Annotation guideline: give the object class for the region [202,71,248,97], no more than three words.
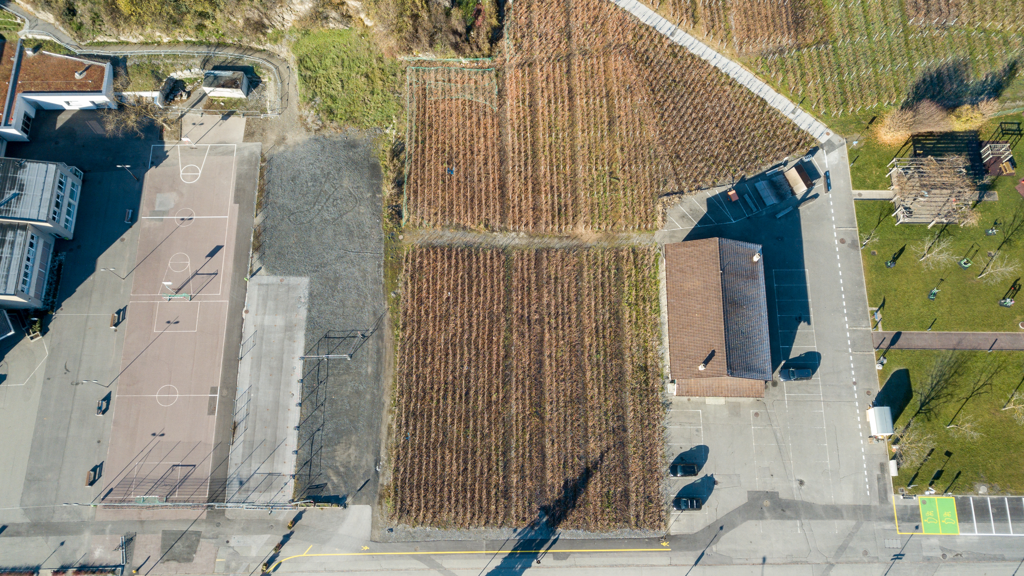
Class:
shed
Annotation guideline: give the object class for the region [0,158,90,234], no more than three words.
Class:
building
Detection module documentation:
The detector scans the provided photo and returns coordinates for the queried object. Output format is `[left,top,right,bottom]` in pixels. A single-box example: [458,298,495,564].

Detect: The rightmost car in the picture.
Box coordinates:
[781,368,817,384]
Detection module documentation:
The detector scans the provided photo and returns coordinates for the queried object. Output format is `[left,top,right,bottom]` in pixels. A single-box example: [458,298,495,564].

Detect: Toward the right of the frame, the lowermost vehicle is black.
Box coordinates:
[672,496,705,513]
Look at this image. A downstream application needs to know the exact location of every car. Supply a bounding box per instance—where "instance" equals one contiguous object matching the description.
[672,496,705,513]
[670,462,701,479]
[781,368,817,384]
